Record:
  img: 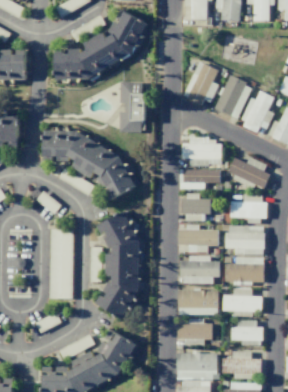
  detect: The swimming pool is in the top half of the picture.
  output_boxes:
[90,98,112,112]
